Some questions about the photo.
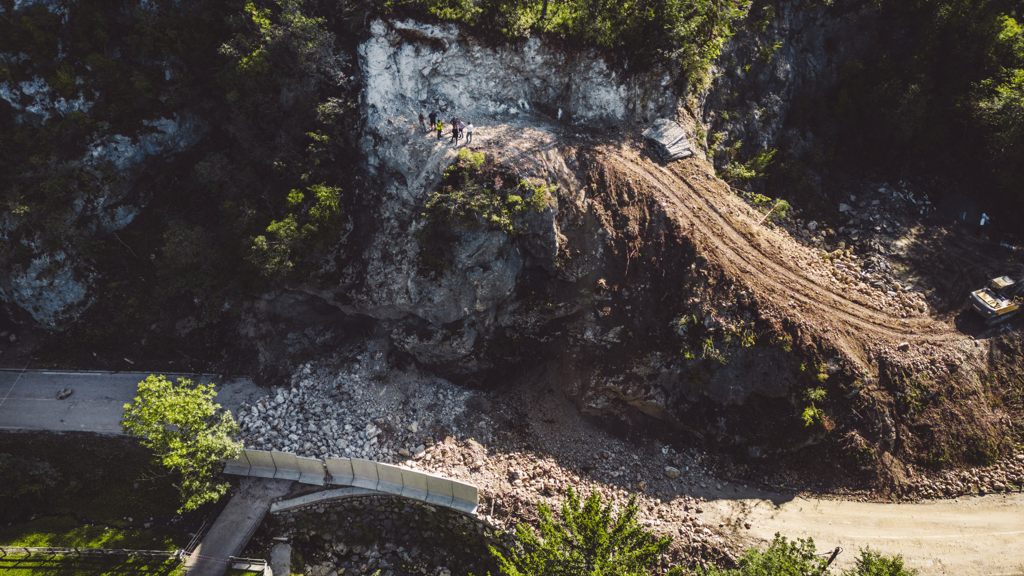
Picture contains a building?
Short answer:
No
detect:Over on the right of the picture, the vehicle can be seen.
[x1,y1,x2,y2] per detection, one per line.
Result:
[963,274,1024,338]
